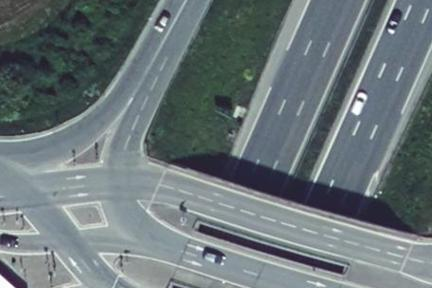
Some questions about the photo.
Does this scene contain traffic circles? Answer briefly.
No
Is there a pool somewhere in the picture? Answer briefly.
No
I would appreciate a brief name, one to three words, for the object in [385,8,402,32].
car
